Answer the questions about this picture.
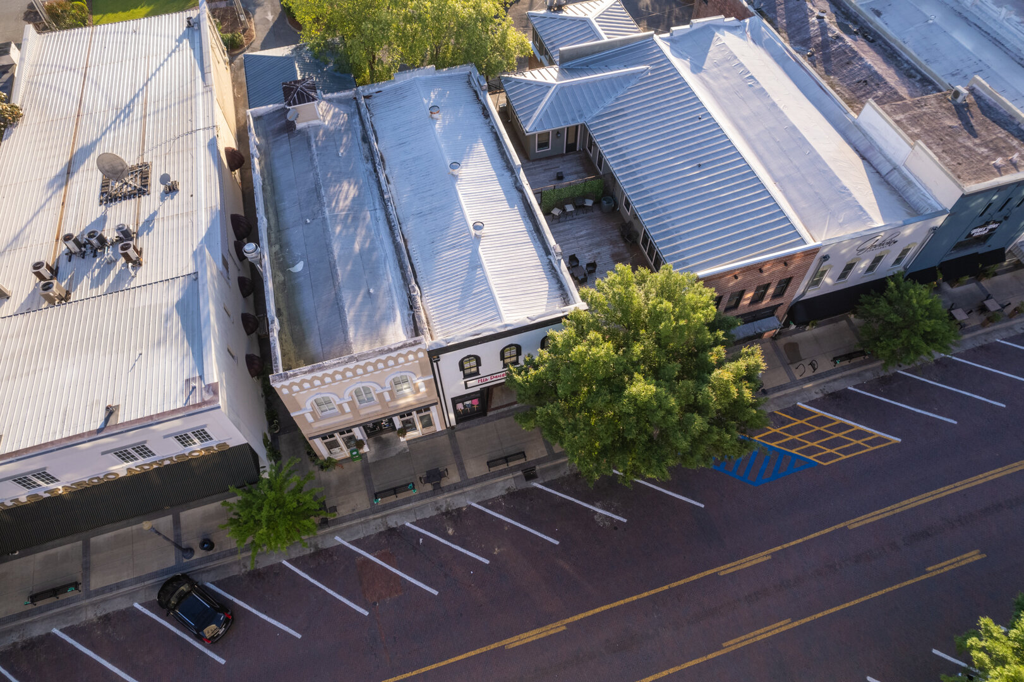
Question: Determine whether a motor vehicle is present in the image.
Yes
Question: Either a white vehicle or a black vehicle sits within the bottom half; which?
black vehicle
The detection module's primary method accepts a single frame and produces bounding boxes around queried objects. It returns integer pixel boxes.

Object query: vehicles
[155,570,237,649]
